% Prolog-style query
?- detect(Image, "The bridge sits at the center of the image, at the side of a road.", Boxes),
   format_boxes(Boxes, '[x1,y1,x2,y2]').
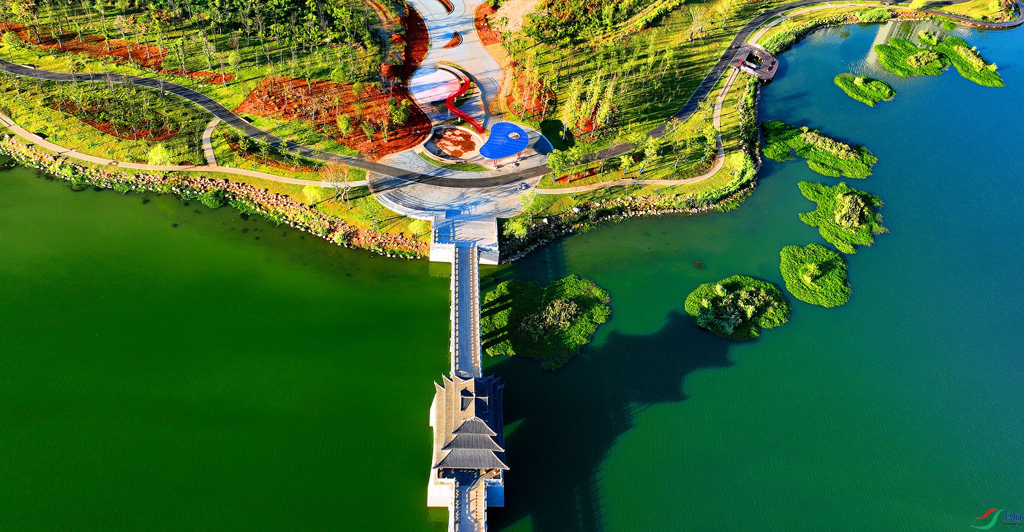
[430,204,500,376]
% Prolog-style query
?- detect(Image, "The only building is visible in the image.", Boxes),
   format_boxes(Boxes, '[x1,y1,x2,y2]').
[432,368,511,524]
